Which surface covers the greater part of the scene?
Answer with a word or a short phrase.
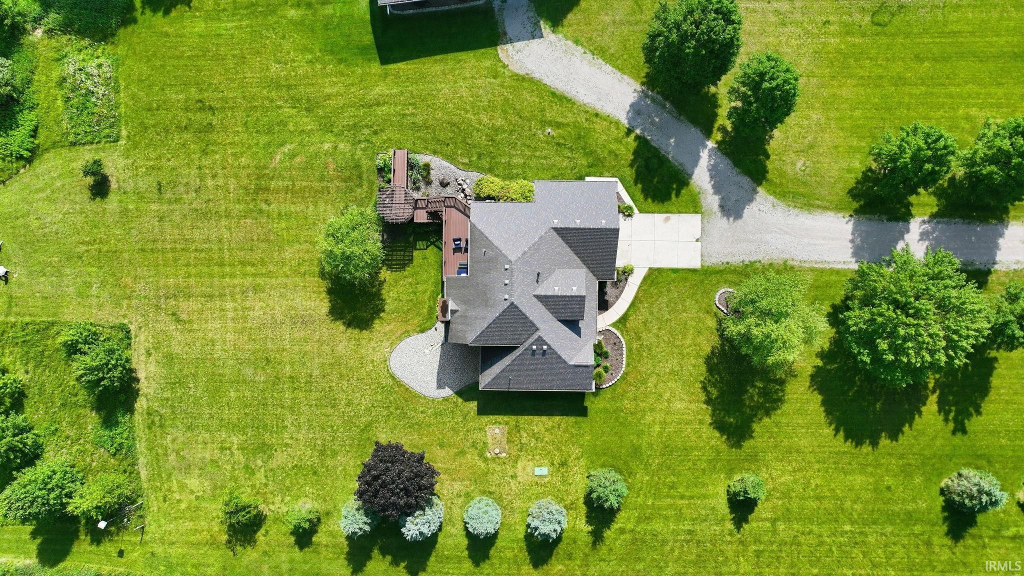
grass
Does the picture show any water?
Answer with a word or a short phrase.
No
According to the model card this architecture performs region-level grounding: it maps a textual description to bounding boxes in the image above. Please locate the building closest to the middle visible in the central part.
[437,179,622,392]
